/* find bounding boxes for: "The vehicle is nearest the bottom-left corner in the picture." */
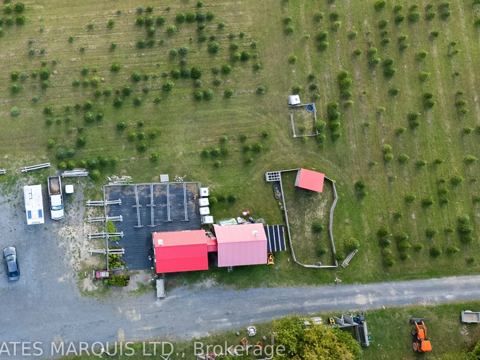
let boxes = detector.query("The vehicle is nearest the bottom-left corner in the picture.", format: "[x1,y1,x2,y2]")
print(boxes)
[3,246,21,280]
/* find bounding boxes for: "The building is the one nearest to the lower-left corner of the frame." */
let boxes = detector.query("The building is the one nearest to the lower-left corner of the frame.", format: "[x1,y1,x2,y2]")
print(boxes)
[154,229,208,273]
